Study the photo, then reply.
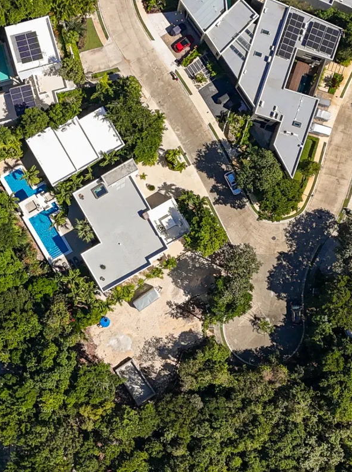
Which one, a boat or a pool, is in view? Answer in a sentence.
Looking from above, you can make out a pool.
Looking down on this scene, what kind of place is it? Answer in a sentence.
The picture captures a residential area.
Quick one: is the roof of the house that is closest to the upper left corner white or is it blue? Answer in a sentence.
The roof of the house that is closest to the upper left corner looks white in the image.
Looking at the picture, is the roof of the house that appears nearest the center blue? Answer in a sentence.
No, from above the roof of the house that appears nearest the center looks white.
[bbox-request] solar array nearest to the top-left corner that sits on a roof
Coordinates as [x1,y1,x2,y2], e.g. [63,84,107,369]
[16,31,43,63]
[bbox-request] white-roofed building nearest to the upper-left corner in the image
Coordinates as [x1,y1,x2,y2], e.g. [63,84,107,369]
[0,16,77,124]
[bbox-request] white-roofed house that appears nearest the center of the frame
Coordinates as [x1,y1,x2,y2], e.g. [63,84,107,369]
[73,158,188,291]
